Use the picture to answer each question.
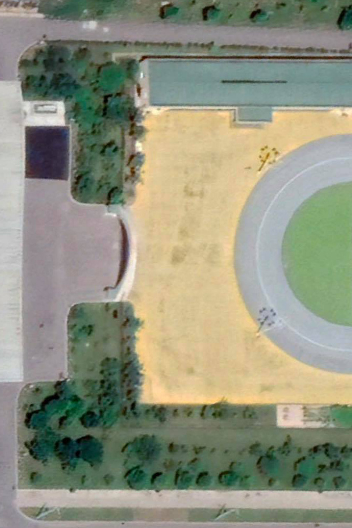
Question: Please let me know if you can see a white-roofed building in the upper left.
Yes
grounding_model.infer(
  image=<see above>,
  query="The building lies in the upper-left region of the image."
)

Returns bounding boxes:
[21,101,66,127]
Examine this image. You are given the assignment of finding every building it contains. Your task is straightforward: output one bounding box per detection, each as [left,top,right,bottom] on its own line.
[133,58,352,125]
[21,101,66,127]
